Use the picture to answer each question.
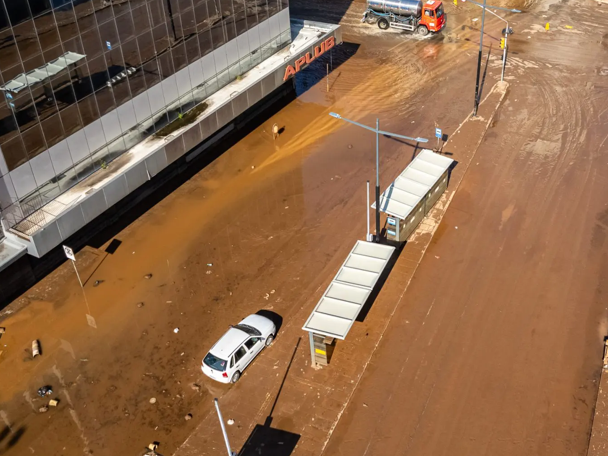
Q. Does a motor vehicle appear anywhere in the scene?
Yes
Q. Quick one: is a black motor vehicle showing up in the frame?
No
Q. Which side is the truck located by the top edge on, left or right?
right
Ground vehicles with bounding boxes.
[357,0,447,36]
[193,314,277,390]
